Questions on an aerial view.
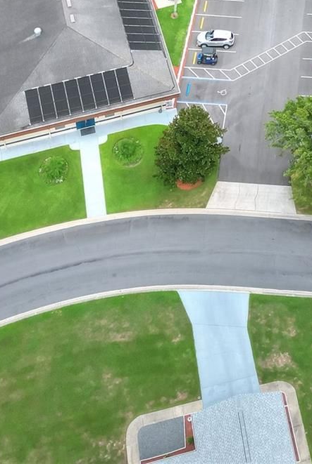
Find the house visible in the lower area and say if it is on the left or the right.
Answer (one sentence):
You can find the house visible in the lower area on the right side of the picture.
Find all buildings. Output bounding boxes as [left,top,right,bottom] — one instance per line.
[0,0,185,158]
[145,392,294,464]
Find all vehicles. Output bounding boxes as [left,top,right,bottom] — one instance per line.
[197,46,219,66]
[197,31,236,49]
